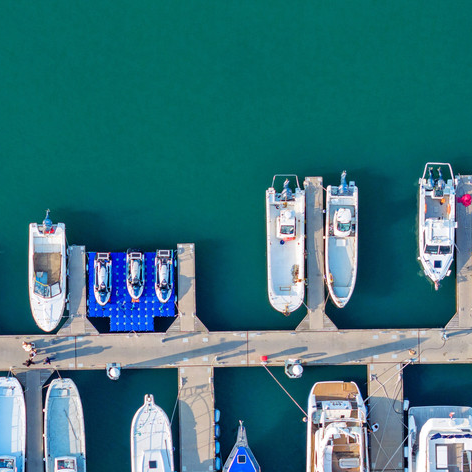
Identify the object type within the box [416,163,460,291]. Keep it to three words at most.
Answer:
boat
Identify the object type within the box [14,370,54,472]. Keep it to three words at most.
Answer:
pier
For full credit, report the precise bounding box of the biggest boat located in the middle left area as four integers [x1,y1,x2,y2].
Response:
[28,206,67,332]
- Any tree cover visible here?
No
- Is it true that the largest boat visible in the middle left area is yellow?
No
